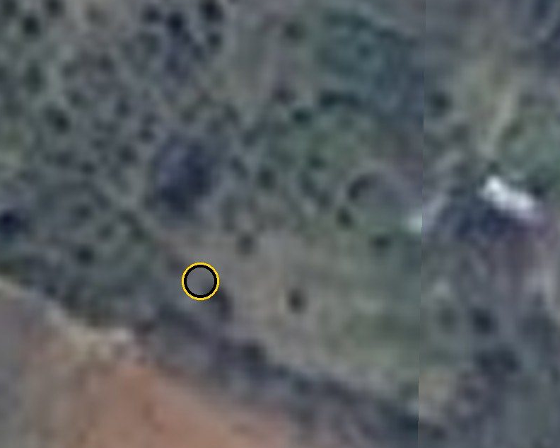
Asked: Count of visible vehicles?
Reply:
none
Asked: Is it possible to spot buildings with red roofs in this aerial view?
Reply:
No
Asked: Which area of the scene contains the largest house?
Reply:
right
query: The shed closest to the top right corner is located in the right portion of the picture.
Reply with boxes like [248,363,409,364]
[483,175,542,216]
